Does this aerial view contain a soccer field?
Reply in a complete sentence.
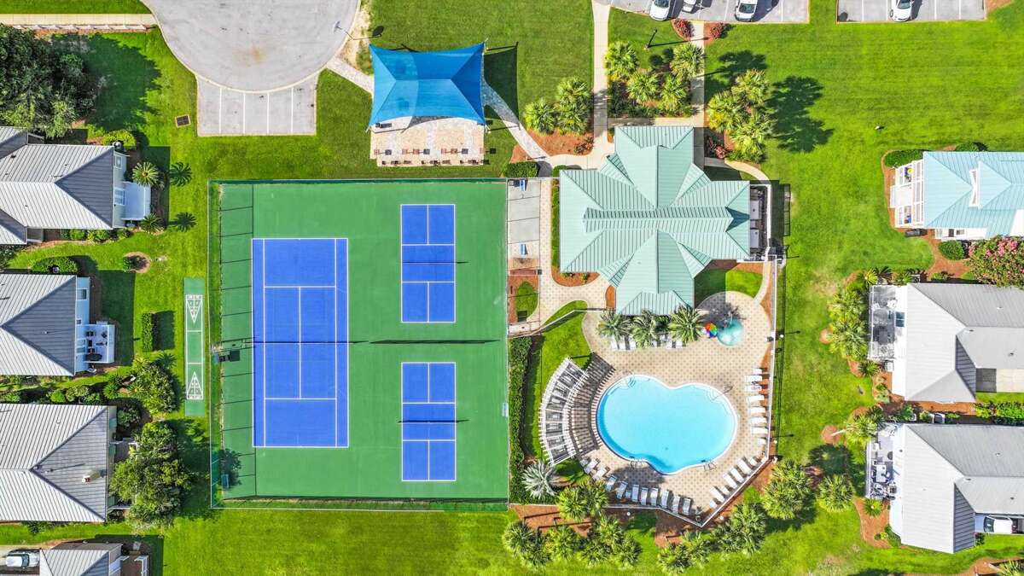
No, I can't see a single soccer field in this photo.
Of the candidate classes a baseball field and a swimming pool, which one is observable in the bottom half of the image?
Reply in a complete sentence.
Visible in the bottom half of the image is a swimming pool.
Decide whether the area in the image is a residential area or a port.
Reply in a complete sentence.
What you see here is a residential area.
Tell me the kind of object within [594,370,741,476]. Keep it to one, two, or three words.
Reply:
swimming pool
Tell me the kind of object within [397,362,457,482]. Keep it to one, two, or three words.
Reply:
sports court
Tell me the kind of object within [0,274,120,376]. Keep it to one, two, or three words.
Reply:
house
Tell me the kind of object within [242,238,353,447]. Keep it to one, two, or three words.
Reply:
tennis court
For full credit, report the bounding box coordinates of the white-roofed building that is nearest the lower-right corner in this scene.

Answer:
[863,422,1024,554]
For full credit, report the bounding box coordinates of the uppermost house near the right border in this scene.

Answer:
[888,151,1024,239]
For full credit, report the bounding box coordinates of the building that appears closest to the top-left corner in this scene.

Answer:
[0,127,154,245]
